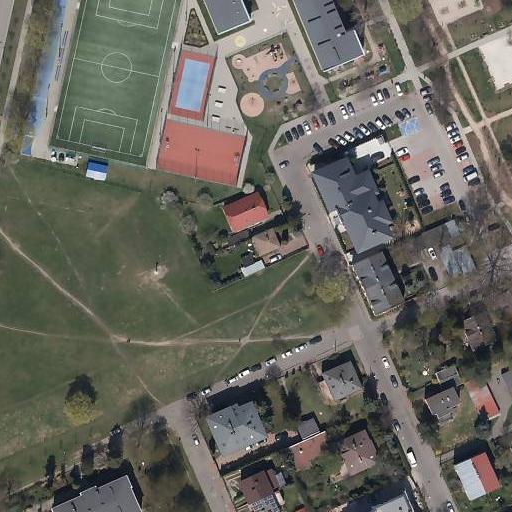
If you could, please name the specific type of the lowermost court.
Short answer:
basketball court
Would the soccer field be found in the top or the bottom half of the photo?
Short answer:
top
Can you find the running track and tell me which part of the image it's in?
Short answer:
top left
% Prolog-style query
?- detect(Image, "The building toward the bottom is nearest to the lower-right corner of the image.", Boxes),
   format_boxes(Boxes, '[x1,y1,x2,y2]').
[454,451,500,500]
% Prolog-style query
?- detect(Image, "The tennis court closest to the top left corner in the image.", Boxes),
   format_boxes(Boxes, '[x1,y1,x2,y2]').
[169,51,216,122]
